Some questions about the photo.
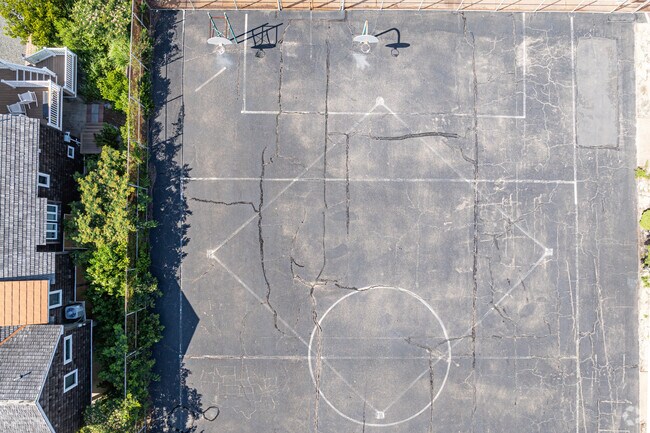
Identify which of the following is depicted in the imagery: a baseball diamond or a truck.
baseball diamond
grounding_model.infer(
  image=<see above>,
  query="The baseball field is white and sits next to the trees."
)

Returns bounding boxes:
[209,100,552,417]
